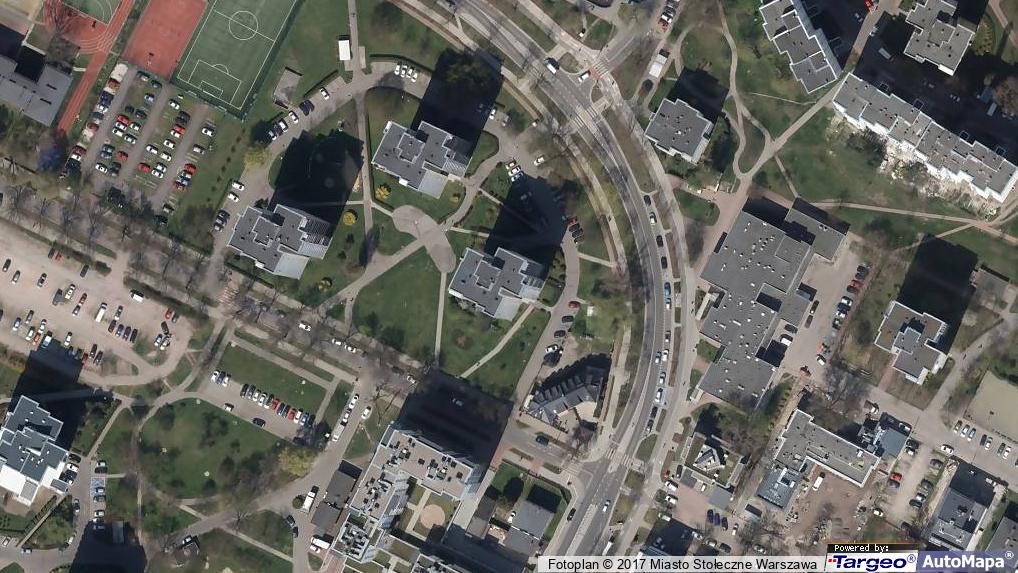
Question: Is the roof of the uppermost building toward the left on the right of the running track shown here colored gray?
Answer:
Yes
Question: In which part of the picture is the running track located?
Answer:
top left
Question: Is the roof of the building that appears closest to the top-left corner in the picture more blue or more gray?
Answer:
gray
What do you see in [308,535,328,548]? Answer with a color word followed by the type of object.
white vehicle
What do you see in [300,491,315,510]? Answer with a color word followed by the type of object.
white vehicle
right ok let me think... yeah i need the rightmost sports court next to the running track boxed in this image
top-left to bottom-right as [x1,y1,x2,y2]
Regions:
[120,0,211,83]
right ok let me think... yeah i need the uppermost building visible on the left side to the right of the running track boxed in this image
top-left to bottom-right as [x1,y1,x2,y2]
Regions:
[273,68,304,104]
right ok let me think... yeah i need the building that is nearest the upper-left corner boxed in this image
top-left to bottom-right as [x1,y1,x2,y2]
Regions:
[0,56,82,129]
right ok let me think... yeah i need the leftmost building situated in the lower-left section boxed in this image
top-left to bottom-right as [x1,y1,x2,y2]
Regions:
[0,395,92,504]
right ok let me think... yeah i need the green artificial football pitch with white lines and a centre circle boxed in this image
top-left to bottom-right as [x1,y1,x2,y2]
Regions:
[171,0,304,123]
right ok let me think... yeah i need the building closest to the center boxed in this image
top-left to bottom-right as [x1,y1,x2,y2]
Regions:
[448,248,548,319]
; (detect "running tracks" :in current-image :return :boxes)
[43,0,135,140]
